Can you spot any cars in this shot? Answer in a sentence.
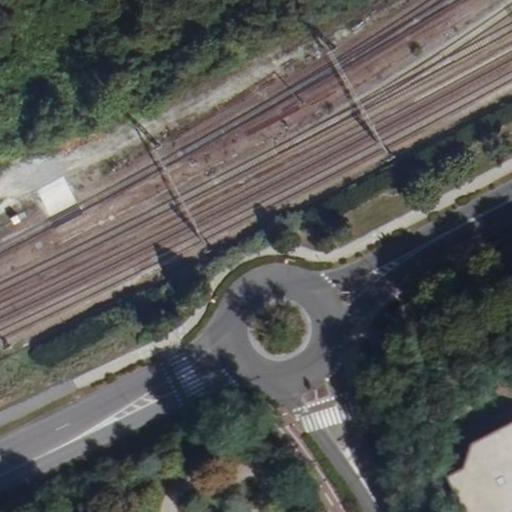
No, there's no car here.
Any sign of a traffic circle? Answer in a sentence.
Yes, the photo shows a traffic circle.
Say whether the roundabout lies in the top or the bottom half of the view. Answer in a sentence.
It is in the bottom half that the roundabout appears.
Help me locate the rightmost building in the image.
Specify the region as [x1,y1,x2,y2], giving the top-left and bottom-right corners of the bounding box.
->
[446,419,512,512]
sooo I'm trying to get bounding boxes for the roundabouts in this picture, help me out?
[186,265,372,408]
